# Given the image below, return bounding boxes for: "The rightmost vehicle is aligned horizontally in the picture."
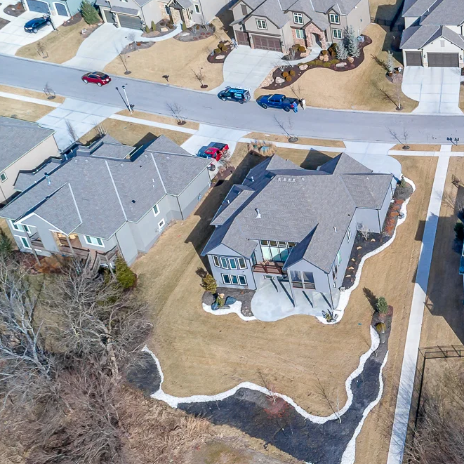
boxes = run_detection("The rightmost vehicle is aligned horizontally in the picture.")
[254,90,298,109]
